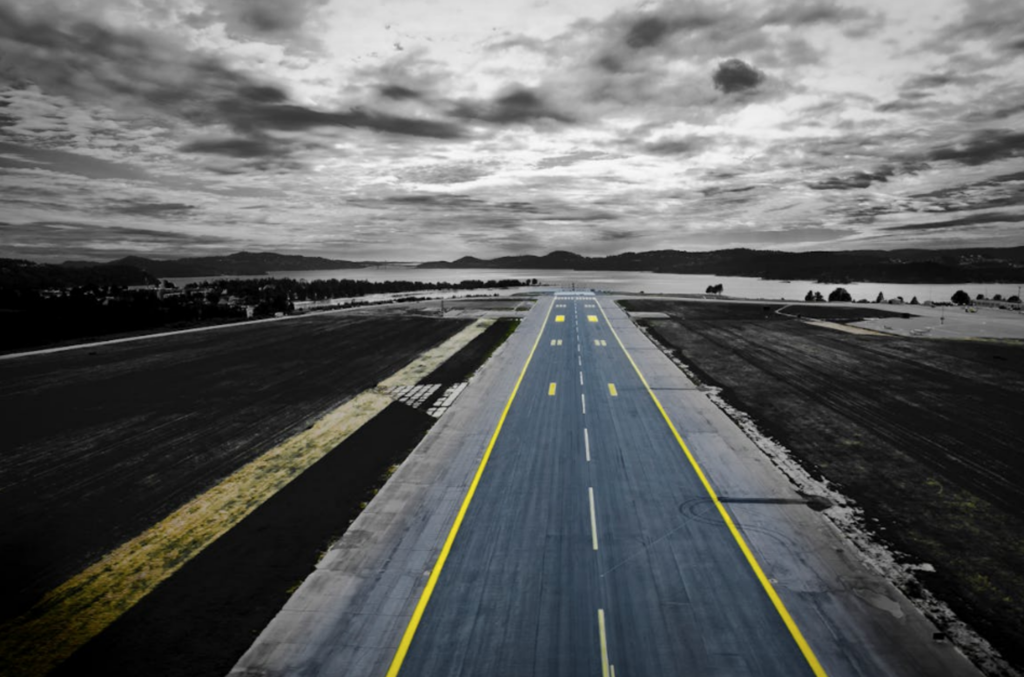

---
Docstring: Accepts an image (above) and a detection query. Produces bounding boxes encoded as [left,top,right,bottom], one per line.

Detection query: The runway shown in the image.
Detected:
[384,291,824,677]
